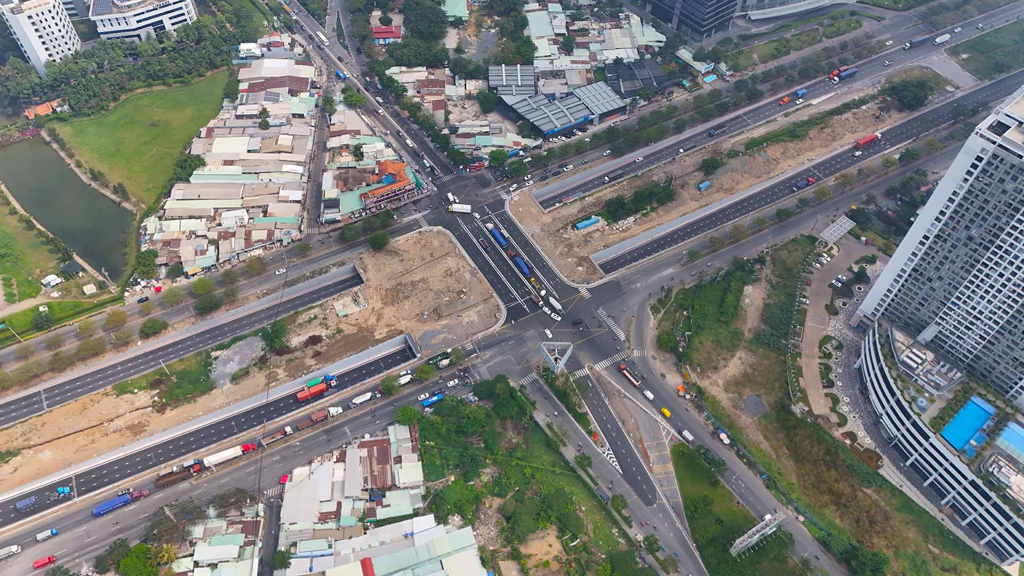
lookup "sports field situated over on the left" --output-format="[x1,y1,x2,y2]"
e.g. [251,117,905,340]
[51,70,230,205]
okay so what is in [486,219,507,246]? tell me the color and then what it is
blue truck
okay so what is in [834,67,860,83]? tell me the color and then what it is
blue vehicle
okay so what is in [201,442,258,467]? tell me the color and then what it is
white truck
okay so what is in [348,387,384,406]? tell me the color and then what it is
white vehicle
